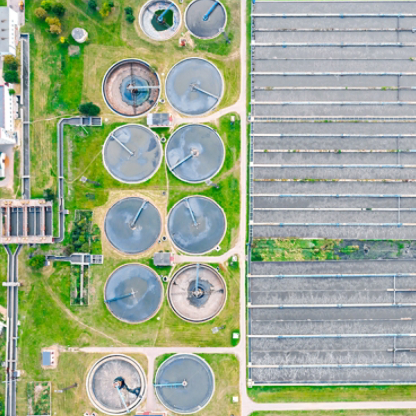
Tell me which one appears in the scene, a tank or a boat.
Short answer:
tank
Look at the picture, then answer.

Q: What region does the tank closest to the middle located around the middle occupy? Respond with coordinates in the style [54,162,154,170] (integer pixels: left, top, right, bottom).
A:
[166,195,226,255]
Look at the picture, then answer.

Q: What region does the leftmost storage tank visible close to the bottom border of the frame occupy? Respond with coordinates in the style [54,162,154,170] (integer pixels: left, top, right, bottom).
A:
[85,354,148,415]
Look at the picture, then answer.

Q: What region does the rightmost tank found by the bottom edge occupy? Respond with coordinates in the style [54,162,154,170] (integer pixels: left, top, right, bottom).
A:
[153,353,215,415]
